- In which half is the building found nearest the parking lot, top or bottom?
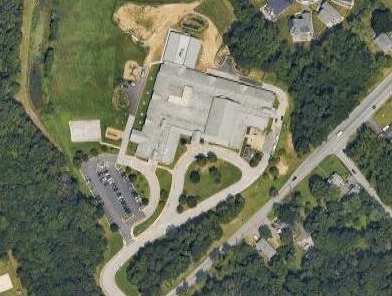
top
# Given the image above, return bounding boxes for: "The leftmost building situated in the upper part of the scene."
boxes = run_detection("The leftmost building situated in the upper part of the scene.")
[130,28,275,165]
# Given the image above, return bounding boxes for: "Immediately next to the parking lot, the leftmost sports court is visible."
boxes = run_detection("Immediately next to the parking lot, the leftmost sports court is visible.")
[69,120,101,142]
